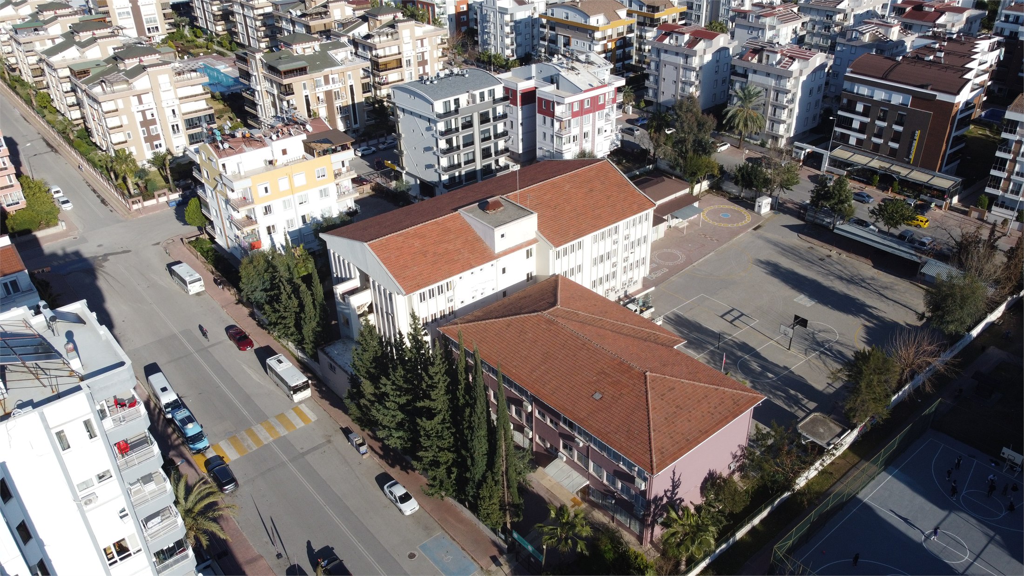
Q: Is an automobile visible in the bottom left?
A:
Yes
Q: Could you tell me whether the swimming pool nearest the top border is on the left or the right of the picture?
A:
left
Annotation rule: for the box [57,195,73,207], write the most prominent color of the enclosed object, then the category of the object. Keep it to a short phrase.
white vehicle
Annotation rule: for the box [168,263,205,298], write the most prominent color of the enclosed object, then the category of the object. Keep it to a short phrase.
white vehicle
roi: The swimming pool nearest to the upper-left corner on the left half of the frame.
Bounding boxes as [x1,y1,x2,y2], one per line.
[189,66,244,92]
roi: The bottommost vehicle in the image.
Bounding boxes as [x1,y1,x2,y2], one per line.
[321,556,356,576]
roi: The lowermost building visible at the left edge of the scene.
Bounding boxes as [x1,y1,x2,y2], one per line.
[0,298,203,576]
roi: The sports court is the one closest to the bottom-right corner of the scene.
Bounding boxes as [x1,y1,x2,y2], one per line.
[773,428,1024,576]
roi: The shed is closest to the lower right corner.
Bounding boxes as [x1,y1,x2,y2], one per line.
[796,411,852,465]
